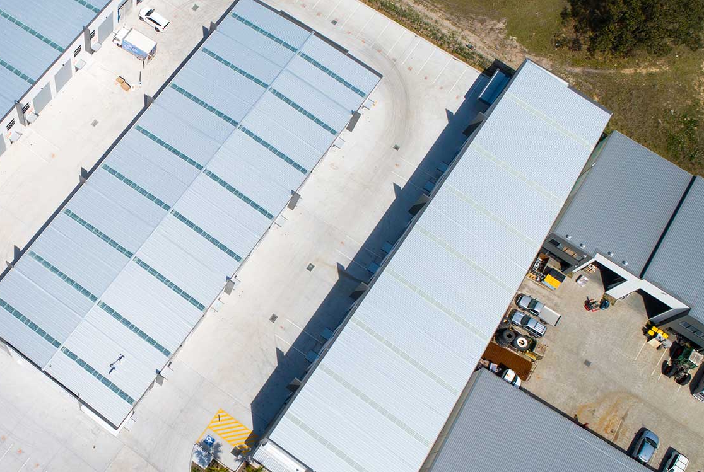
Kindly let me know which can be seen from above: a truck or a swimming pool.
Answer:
truck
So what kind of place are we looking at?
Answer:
industrial area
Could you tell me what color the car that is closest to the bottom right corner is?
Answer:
blue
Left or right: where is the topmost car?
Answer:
left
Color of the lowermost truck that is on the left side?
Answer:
white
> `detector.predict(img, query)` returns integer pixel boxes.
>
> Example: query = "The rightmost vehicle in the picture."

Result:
[655,345,704,387]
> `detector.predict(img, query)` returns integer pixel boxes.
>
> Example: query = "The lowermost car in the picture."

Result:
[628,429,659,464]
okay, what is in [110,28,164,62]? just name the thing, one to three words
truck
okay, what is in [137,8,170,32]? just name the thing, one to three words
car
